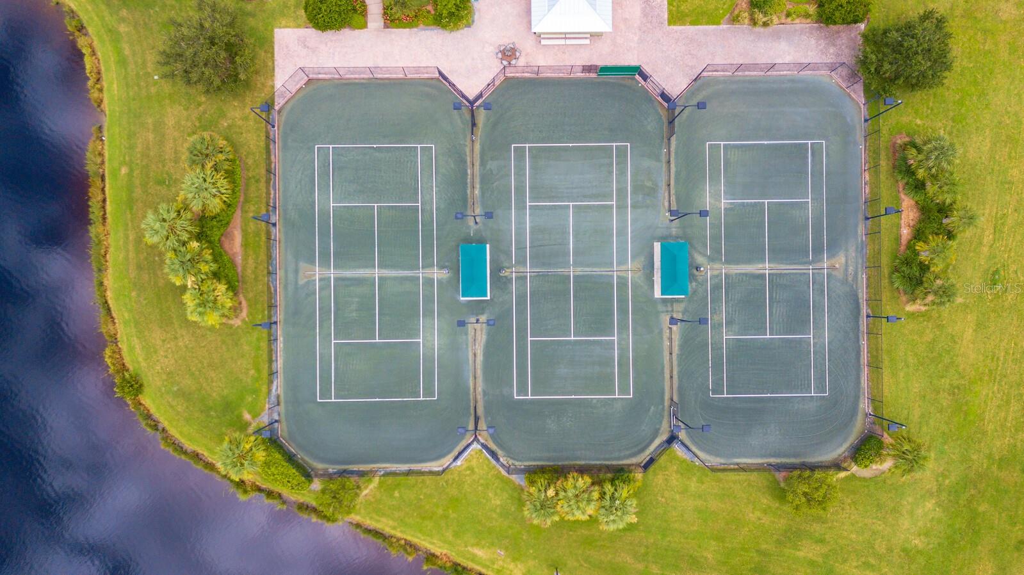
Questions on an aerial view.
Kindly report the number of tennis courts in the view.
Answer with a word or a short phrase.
3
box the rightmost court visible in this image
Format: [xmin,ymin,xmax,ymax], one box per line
[670,74,868,464]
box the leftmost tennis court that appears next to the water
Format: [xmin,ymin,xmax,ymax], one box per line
[279,79,476,470]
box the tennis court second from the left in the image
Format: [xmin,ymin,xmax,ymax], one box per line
[474,76,672,466]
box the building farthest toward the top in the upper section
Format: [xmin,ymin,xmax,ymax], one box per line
[531,0,612,36]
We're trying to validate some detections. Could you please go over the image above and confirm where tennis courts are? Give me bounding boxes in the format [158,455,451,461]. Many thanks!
[279,79,476,470]
[474,76,672,466]
[670,74,868,464]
